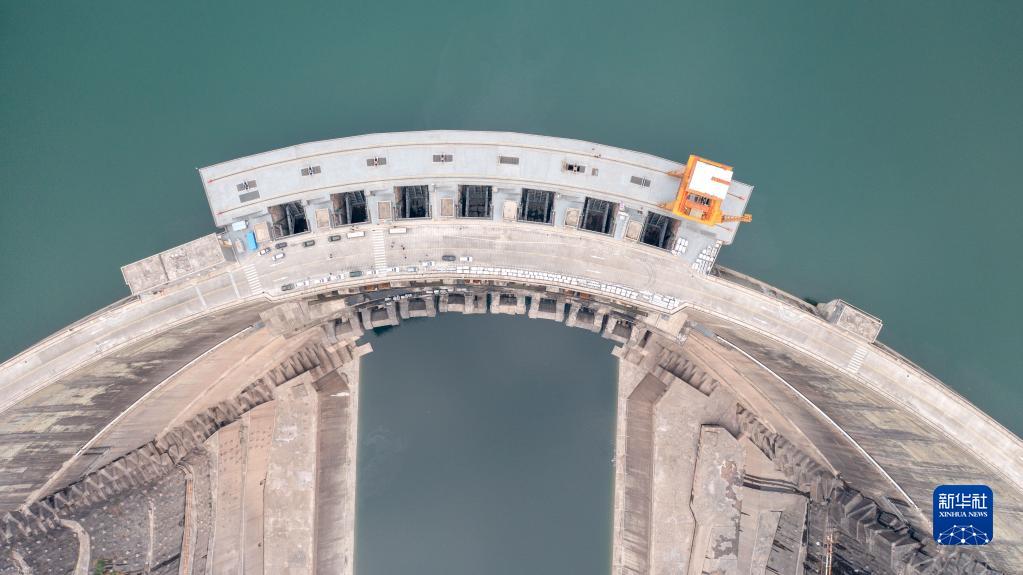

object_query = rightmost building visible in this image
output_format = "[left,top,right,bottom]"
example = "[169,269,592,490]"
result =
[822,299,883,343]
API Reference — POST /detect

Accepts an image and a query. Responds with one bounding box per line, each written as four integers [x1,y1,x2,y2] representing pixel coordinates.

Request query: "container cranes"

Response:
[650,155,751,223]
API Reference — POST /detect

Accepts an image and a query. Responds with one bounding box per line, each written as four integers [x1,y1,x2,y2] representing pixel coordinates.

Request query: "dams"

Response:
[0,223,1023,575]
